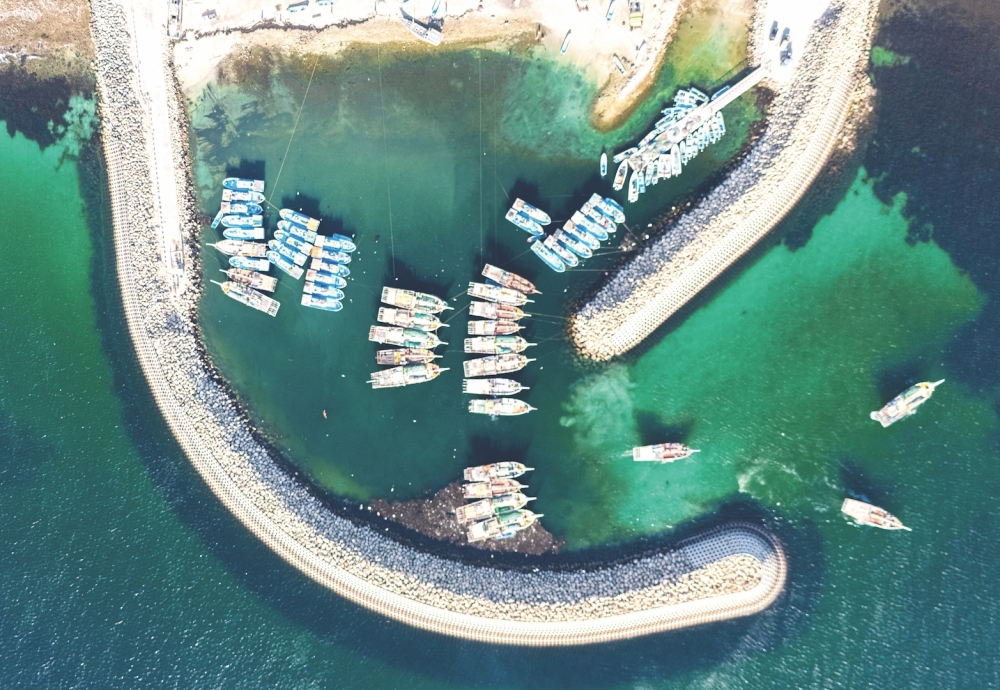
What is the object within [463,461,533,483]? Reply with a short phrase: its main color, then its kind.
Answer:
white boat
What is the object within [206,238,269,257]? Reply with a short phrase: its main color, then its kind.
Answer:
white boat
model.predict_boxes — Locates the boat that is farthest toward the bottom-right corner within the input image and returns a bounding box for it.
[840,500,912,530]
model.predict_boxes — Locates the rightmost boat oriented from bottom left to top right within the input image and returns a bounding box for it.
[878,381,944,426]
